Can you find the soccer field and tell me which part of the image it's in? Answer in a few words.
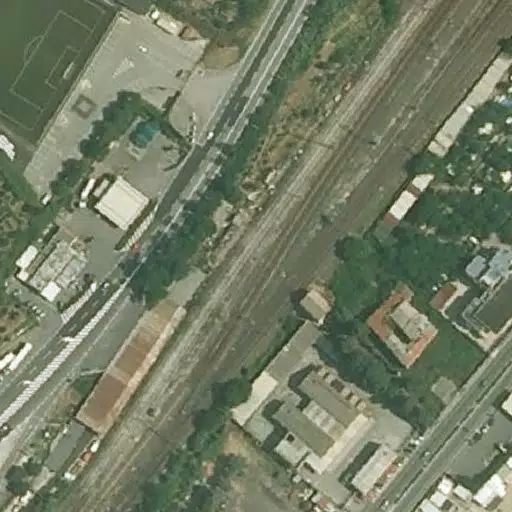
top left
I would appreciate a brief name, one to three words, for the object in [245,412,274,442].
shed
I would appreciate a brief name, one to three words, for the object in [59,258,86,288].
building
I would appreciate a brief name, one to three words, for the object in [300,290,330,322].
house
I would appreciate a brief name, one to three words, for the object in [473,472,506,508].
building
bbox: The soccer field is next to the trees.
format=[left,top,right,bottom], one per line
[0,0,120,152]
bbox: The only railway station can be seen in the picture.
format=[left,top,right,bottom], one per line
[74,271,207,438]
